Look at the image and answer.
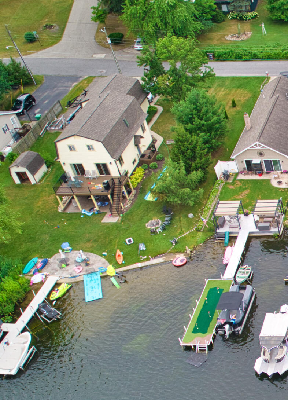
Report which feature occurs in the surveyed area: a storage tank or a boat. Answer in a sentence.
Visible in the photo is a boat.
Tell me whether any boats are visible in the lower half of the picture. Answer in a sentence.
Yes, a boat is visible in the lower half of the picture.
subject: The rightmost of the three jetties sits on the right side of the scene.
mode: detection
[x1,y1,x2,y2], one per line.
[219,233,248,281]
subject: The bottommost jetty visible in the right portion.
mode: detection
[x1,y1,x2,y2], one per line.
[178,276,234,351]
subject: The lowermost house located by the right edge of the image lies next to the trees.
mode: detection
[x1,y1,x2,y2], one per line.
[231,73,288,172]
